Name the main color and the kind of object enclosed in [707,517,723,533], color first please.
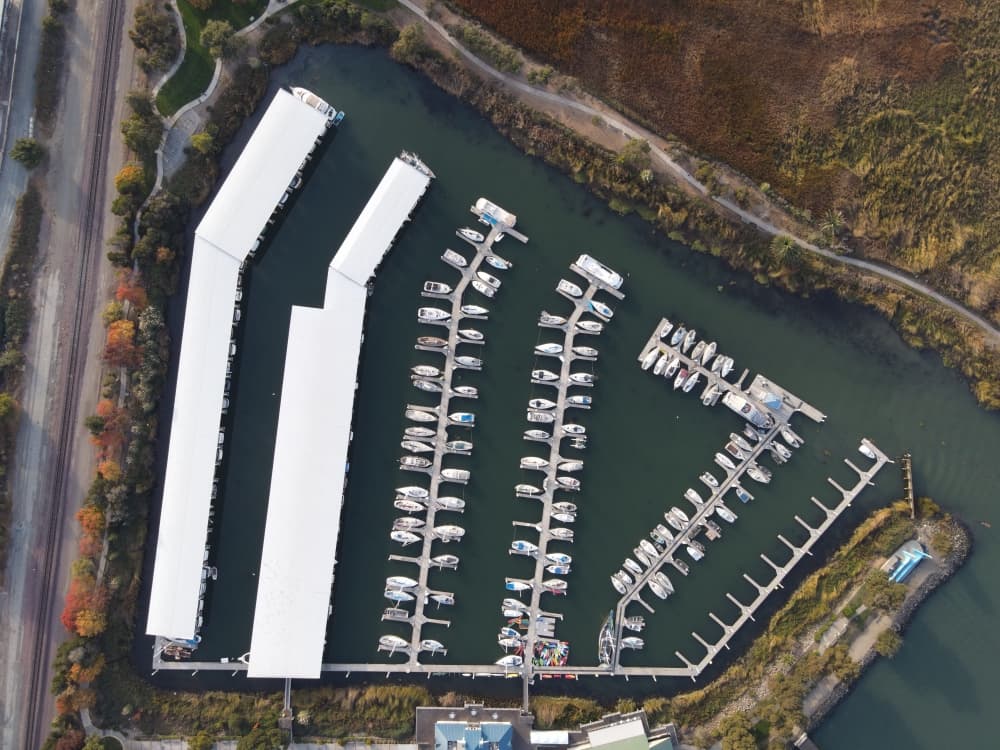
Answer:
gray boat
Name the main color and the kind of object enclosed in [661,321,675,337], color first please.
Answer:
white boat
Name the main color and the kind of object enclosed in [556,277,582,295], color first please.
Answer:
white boat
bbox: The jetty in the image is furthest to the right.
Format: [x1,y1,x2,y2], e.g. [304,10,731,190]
[897,453,918,505]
